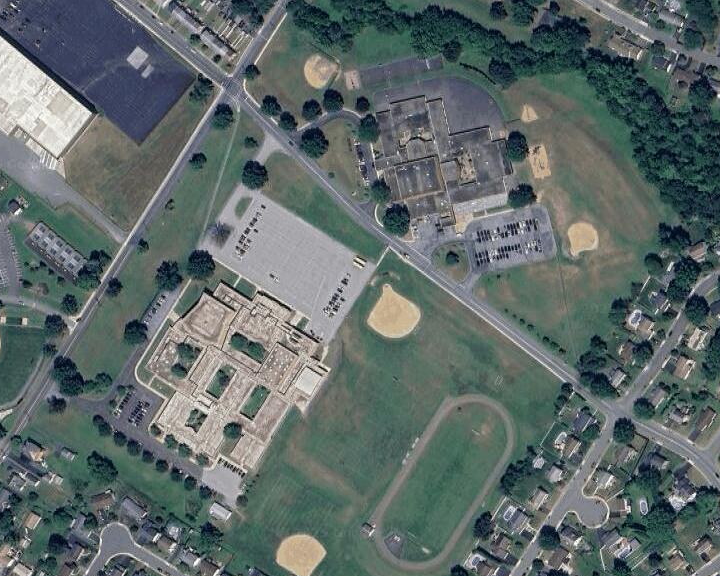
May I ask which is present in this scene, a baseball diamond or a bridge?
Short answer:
baseball diamond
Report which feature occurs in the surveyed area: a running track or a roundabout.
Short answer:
running track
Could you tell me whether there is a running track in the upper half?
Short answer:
No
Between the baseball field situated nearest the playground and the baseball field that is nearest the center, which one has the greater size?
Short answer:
the baseball field that is nearest the center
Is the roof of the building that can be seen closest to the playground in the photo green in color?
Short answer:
No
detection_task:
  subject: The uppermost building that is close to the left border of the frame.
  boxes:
[0,30,98,157]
